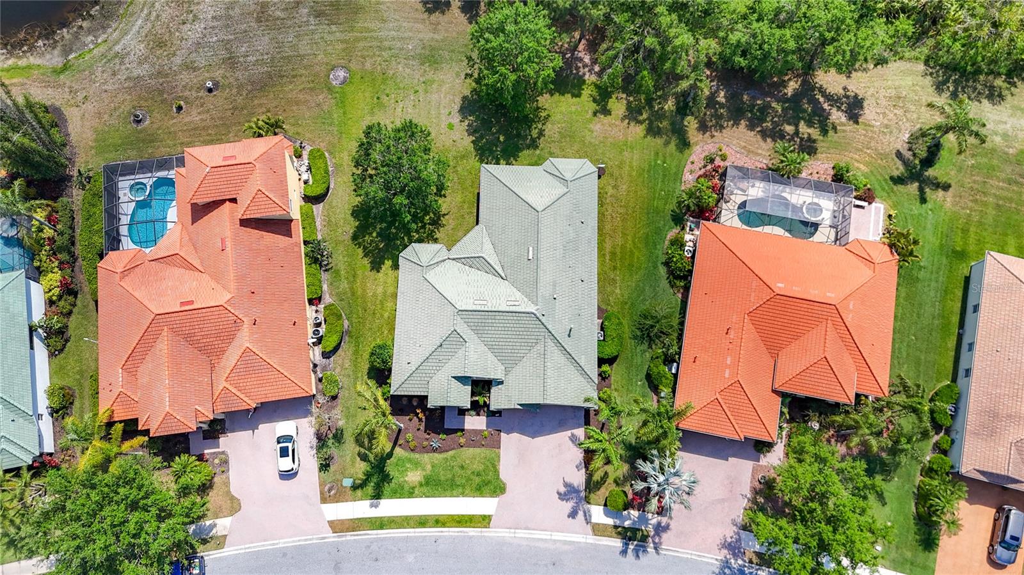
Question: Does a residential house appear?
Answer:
Yes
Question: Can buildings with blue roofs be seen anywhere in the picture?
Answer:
No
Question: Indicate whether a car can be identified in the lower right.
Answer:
Yes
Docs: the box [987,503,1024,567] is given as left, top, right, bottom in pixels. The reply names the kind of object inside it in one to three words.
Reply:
car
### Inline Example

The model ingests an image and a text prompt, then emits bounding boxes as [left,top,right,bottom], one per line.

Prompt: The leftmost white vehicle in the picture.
[272,420,300,476]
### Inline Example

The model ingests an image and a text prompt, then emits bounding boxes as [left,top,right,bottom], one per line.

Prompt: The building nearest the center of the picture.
[391,157,599,411]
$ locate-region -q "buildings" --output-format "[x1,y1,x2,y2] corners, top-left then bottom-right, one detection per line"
[391,157,599,411]
[677,220,901,443]
[0,268,54,469]
[96,134,320,439]
[947,250,1024,496]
